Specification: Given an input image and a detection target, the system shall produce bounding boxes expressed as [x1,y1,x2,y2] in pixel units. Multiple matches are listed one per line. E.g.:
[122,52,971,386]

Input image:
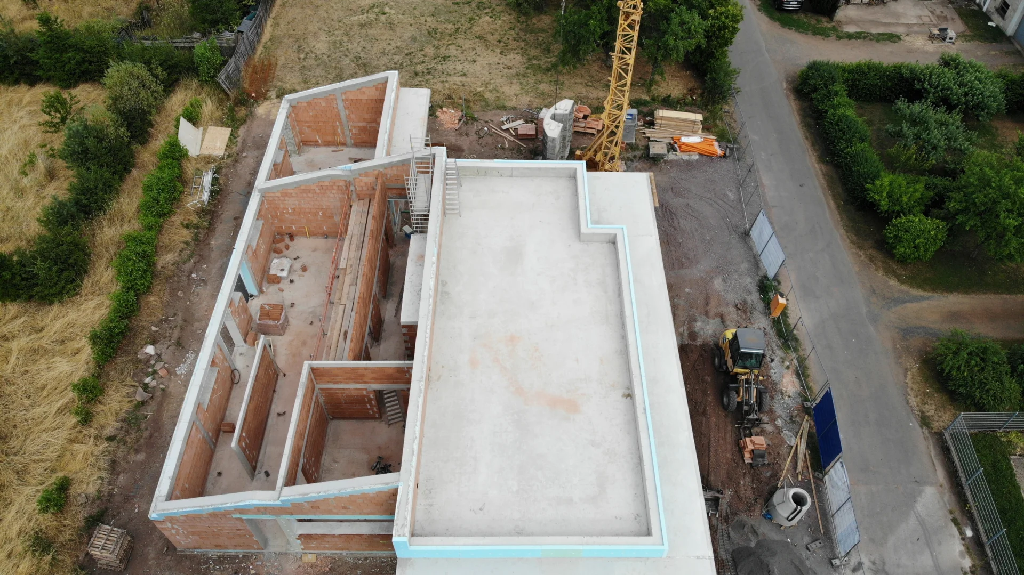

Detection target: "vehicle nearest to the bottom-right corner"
[710,326,777,444]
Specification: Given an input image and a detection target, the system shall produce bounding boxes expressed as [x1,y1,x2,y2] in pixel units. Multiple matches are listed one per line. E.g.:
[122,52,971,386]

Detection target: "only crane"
[570,0,647,173]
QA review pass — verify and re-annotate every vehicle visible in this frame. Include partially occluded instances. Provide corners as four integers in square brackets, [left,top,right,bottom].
[772,0,807,7]
[710,326,777,444]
